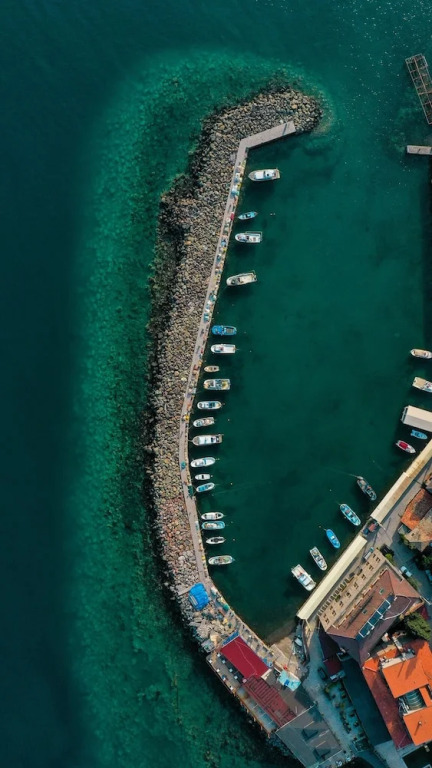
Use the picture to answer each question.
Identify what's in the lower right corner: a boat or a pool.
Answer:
boat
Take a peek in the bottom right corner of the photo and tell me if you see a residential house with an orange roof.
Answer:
Yes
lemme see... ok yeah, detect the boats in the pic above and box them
[223,270,259,285]
[308,546,328,572]
[290,562,314,590]
[324,528,342,548]
[201,520,225,530]
[357,478,377,501]
[190,416,216,428]
[238,211,257,220]
[190,434,226,446]
[195,473,212,480]
[196,511,224,520]
[211,344,237,353]
[236,231,264,242]
[243,168,289,181]
[410,429,428,440]
[410,349,432,359]
[204,366,220,372]
[207,555,234,566]
[201,379,230,390]
[394,440,416,453]
[340,503,364,530]
[189,457,216,467]
[210,326,238,334]
[197,400,224,410]
[410,379,432,392]
[195,482,216,493]
[204,537,228,544]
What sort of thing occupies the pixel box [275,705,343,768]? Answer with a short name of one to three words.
building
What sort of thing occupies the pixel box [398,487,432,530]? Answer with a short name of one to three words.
house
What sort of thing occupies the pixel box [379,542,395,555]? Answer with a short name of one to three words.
vehicle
